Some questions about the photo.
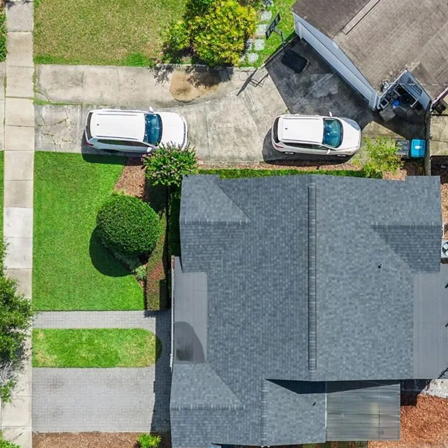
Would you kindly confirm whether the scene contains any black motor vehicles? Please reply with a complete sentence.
No, no black motor vehicle is visible in the view.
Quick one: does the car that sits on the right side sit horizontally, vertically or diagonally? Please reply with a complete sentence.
What the image shows is the car that sits on the right side lying horizontally.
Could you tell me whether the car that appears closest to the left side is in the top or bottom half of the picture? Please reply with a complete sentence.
It is in the top half that the car that appears closest to the left side appears.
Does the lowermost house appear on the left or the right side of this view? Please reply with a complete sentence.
You can find the lowermost house on the right side of the picture.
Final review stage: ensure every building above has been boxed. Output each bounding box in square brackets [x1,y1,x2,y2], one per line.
[166,176,448,448]
[294,0,448,111]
